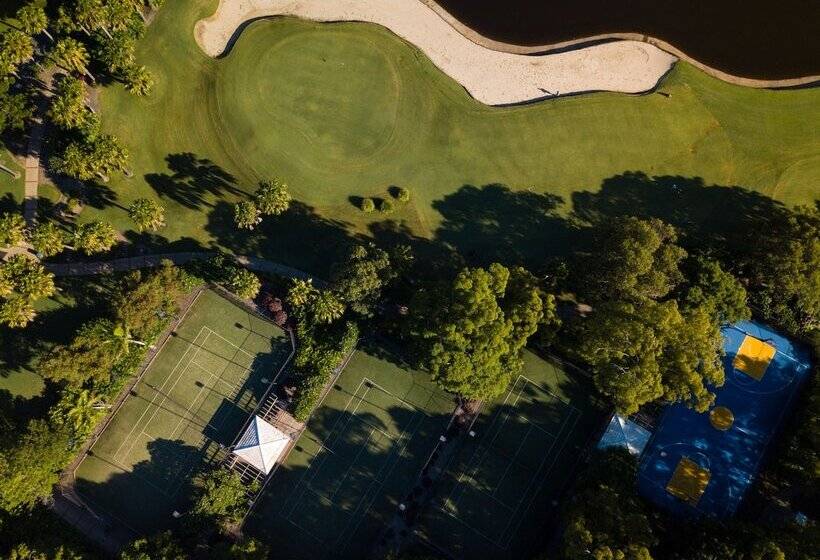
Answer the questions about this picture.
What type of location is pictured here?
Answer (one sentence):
What you see here is a golf course.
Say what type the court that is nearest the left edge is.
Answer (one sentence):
The court that is nearest the left edge in the image is a tennis court.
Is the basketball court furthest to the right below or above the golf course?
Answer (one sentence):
The basketball court furthest to the right is found below the golf course in the photo.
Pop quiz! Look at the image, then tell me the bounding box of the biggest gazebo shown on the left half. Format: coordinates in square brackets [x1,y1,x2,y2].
[232,416,291,475]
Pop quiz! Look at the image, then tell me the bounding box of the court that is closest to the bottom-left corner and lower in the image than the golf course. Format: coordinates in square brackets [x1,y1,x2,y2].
[71,288,296,551]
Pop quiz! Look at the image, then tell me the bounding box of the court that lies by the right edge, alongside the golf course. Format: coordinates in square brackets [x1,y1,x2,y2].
[629,304,818,538]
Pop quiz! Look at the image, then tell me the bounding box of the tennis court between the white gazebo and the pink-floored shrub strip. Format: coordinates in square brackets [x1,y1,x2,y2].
[239,337,458,560]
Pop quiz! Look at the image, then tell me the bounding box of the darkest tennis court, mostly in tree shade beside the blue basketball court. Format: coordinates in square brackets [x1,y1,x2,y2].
[406,341,603,560]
